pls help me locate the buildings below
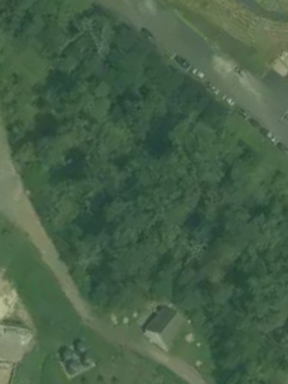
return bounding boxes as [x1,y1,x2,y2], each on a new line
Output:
[144,305,186,350]
[0,326,33,361]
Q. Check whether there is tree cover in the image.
Yes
